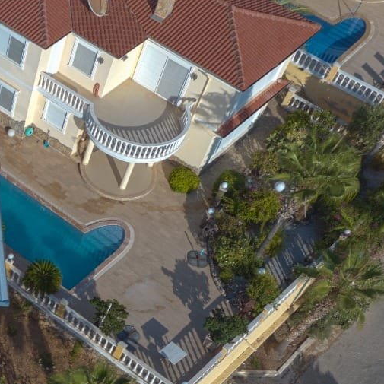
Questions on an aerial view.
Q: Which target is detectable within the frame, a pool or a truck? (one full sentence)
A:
It is a pool that can be seen here.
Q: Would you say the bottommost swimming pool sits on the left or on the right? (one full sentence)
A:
It is on the left.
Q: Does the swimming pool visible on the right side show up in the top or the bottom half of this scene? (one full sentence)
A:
The swimming pool visible on the right side sits in the top half of the picture.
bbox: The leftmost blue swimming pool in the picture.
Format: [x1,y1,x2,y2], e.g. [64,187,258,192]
[0,166,140,298]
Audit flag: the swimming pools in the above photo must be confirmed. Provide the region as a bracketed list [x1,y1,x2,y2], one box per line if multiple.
[306,11,376,67]
[0,166,140,298]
